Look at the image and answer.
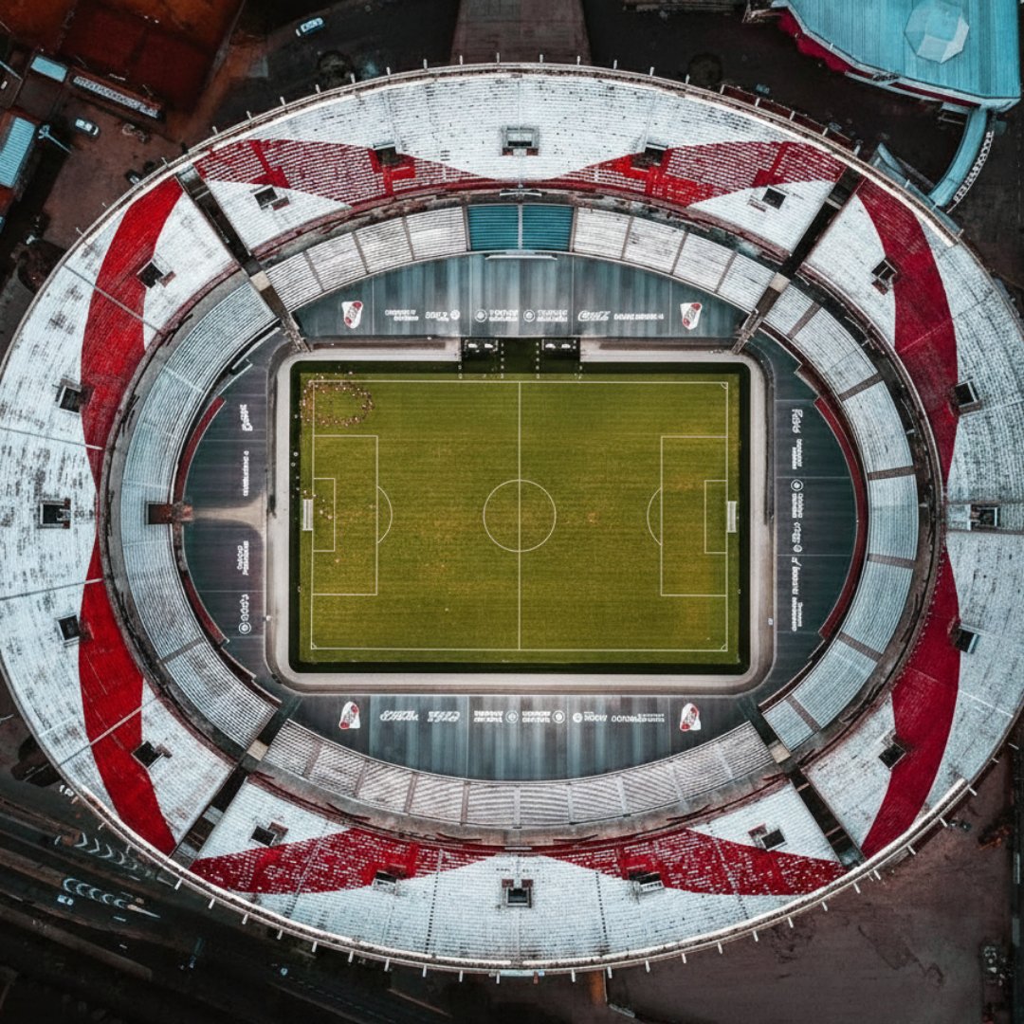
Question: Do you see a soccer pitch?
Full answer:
Yes, a soccer pitch is visible in the scene.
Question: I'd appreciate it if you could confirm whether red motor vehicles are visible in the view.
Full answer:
No, there is no red motor vehicle in the image.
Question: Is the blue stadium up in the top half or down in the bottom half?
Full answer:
Seen from above, the blue stadium lies in the top half of the view.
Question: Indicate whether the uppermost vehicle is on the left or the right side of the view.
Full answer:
The uppermost vehicle sits on the left side.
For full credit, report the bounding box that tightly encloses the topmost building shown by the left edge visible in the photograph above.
[31,57,73,89]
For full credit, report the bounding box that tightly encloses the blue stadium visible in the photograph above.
[760,0,1022,119]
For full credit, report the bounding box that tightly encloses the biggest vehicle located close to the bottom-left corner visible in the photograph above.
[56,895,73,907]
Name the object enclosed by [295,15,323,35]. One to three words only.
vehicle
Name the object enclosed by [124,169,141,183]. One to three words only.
car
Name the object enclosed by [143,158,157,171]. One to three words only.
vehicle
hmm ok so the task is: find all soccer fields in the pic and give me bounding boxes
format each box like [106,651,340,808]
[290,338,751,673]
